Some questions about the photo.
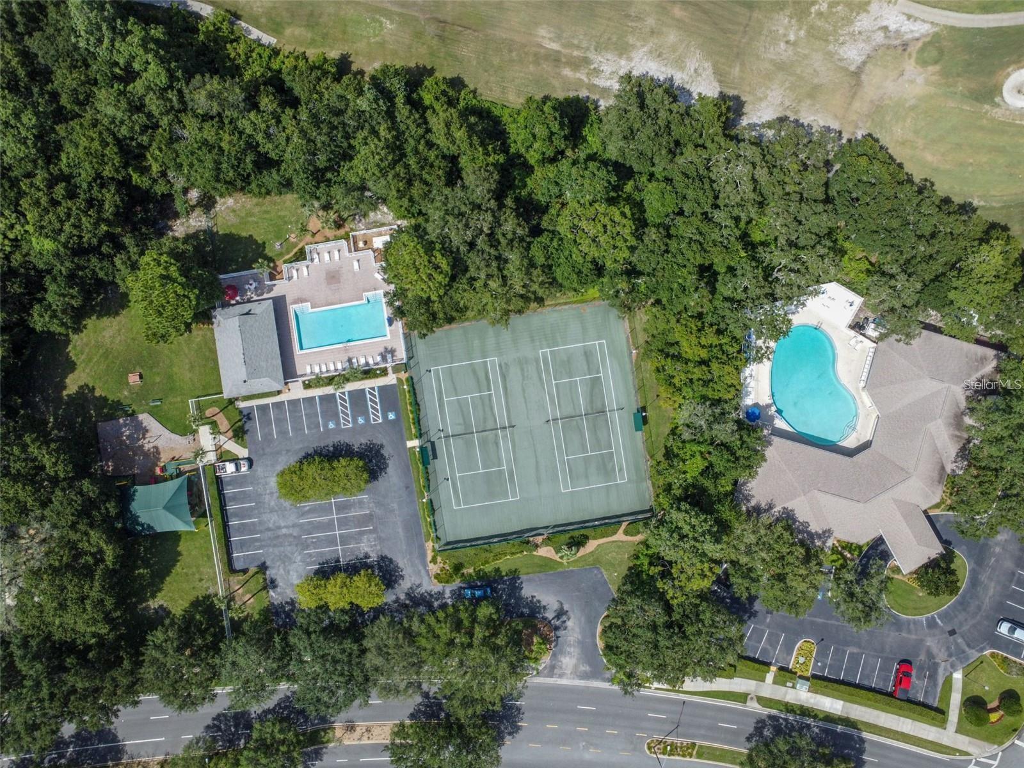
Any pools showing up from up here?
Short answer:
Yes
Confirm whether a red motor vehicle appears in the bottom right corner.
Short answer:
Yes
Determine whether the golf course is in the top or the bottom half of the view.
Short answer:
top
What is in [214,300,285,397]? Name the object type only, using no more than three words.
building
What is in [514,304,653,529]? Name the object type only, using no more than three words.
tennis court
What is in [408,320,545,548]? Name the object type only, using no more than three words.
tennis court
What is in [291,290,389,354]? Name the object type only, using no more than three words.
swimming pool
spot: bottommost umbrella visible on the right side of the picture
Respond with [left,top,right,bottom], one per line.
[746,407,760,422]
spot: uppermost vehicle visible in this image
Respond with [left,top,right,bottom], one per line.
[213,459,251,475]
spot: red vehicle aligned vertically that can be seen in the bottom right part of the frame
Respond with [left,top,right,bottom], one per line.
[893,661,914,700]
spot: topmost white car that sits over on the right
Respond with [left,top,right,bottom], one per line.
[995,621,1024,641]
